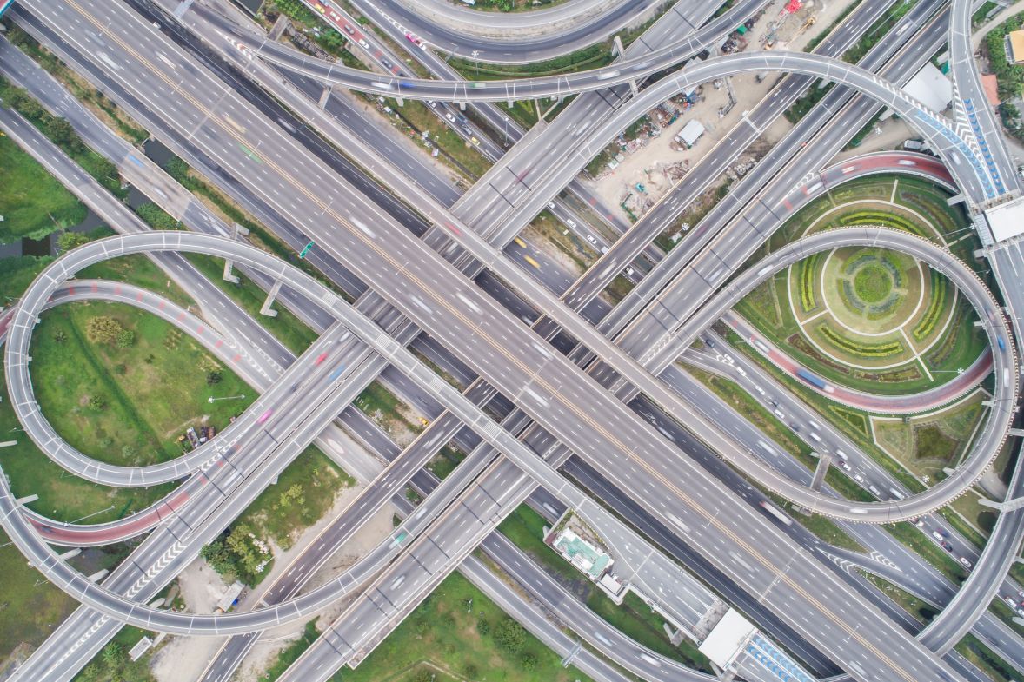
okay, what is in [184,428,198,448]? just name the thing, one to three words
vehicle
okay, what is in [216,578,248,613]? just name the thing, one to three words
shed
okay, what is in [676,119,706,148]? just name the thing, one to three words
shed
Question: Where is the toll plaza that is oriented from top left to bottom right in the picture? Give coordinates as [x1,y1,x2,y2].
[542,495,821,682]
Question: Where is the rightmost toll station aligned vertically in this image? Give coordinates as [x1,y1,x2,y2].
[957,173,1024,361]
